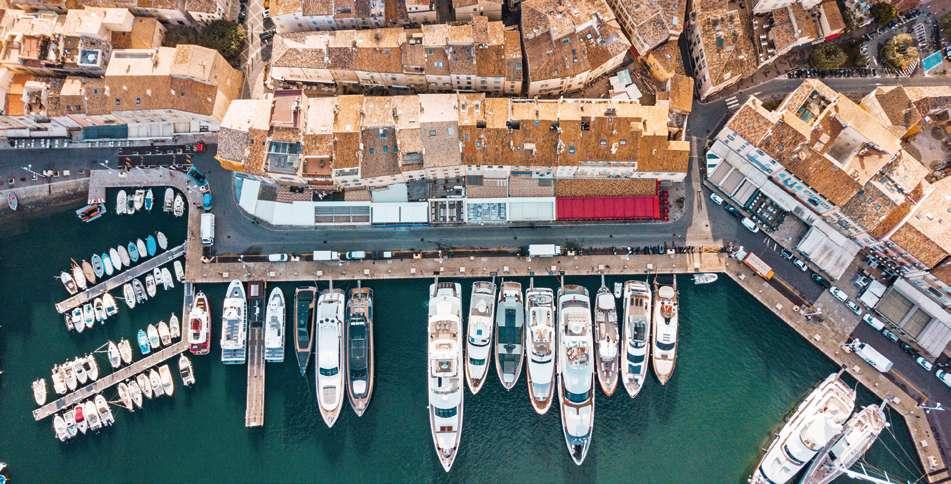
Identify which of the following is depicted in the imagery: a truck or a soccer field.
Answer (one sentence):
Looking from above, you can make out a truck.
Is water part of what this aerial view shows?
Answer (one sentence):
Yes, there's water in this view.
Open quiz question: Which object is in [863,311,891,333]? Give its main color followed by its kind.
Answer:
white vehicle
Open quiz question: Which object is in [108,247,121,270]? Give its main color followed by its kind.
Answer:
white boat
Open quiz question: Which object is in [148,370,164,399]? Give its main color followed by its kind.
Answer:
white boat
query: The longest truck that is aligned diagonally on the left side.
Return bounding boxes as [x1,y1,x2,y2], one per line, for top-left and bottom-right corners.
[185,164,208,190]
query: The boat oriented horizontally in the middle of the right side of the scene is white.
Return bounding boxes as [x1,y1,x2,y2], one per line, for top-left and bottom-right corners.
[691,272,719,284]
